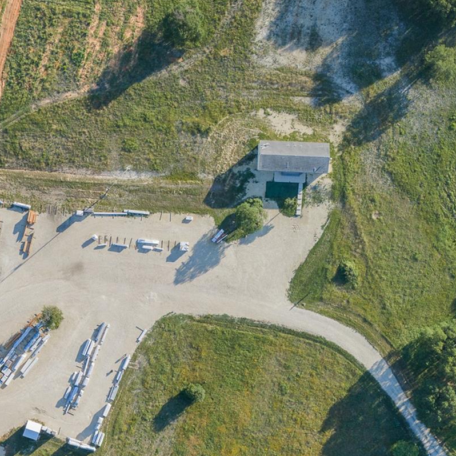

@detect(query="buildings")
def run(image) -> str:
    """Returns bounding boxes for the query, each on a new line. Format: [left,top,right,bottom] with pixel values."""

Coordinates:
[23,421,42,440]
[255,141,333,183]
